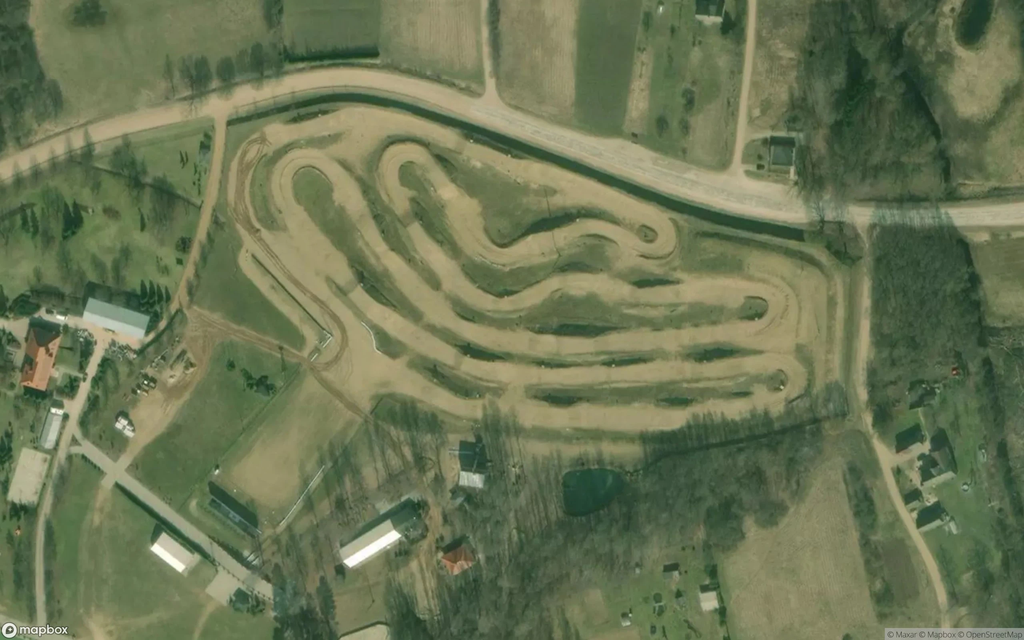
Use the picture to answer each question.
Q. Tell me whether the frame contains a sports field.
Yes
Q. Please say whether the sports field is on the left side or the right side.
left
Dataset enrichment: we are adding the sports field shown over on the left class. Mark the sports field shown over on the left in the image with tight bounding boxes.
[218,368,366,531]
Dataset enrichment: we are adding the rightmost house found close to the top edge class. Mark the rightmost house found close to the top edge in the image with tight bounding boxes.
[694,0,725,30]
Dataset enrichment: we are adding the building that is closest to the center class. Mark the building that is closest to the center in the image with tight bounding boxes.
[459,447,488,488]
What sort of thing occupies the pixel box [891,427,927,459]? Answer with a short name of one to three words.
house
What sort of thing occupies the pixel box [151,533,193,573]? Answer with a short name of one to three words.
shed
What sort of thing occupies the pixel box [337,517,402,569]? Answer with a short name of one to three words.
barn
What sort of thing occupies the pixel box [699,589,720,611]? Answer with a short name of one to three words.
house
